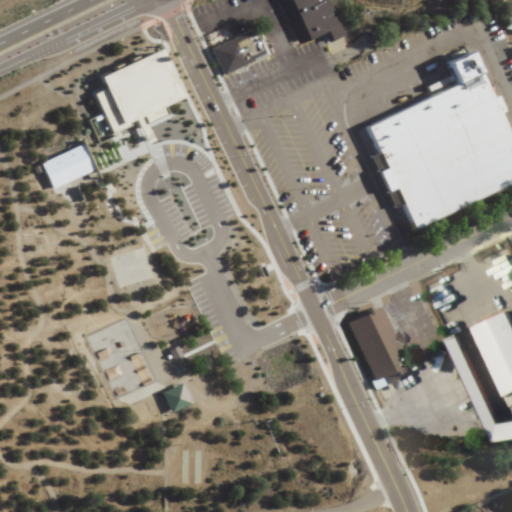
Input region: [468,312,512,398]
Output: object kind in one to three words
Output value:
building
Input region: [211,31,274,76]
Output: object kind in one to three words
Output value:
building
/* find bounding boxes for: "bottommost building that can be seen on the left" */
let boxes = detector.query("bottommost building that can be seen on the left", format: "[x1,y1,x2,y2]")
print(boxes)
[163,385,194,412]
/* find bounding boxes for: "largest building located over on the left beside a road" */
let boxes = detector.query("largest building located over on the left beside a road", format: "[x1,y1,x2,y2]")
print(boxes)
[96,50,189,142]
